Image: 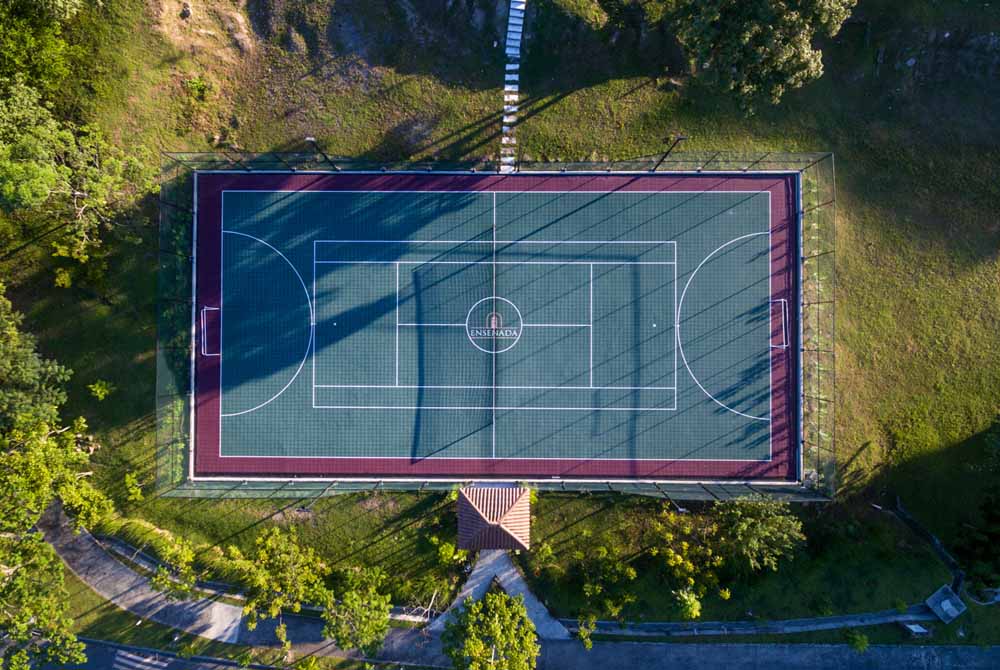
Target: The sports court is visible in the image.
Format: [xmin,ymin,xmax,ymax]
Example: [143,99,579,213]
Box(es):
[188,169,805,483]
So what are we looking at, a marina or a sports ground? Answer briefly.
sports ground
